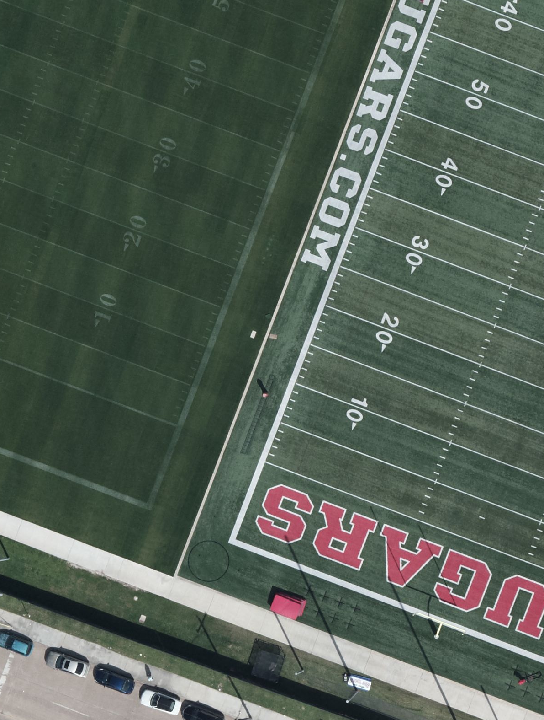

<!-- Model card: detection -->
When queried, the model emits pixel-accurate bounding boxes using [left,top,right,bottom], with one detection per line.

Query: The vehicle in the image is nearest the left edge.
[0,632,33,658]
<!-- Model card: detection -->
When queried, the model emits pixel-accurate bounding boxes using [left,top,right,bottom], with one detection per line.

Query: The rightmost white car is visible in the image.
[139,689,182,715]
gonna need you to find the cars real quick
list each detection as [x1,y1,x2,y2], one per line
[180,703,226,720]
[92,666,135,694]
[139,689,182,715]
[44,650,91,679]
[0,632,33,658]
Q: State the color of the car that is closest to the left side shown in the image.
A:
blue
